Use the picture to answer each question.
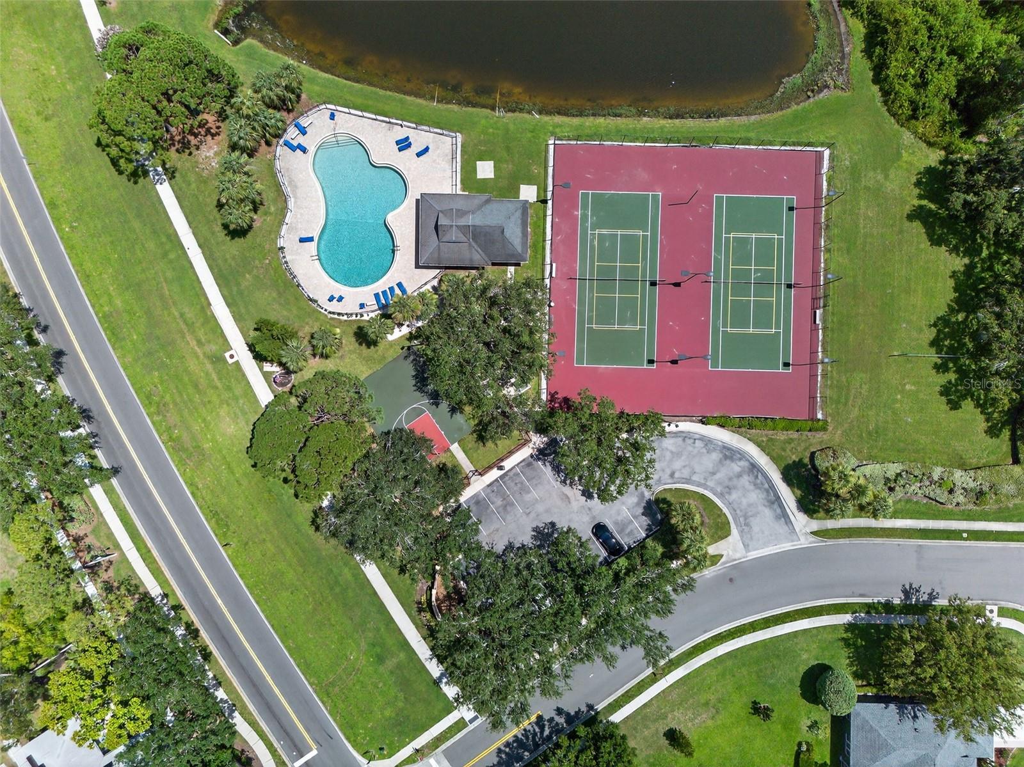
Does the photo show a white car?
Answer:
No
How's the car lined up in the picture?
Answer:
at an angle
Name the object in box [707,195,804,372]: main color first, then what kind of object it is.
green tennis court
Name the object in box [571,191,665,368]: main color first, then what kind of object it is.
green tennis court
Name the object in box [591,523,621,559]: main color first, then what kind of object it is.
black car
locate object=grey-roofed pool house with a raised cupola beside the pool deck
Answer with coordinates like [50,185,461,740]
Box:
[419,193,529,268]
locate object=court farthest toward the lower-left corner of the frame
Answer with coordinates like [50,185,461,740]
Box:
[353,346,481,471]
